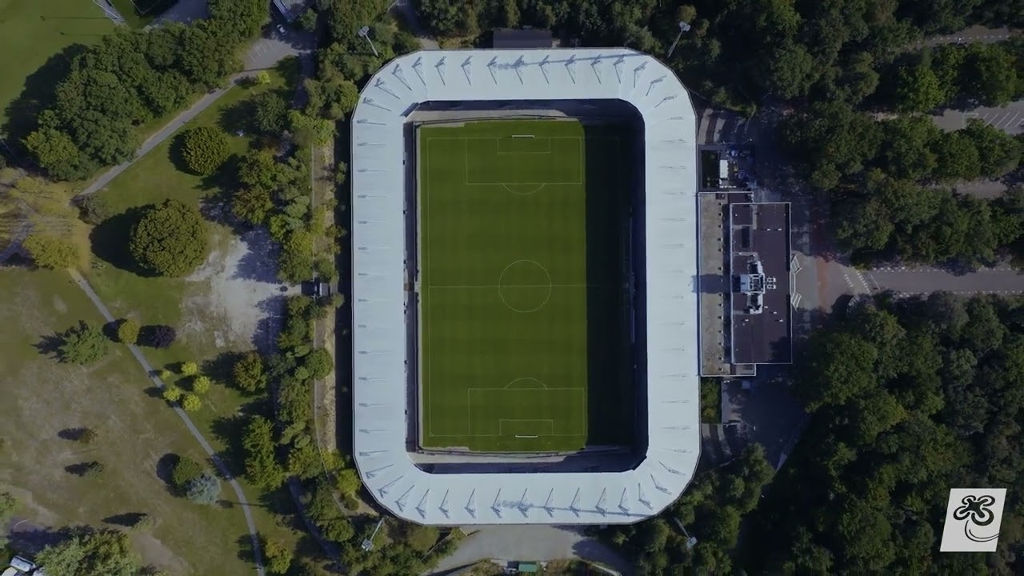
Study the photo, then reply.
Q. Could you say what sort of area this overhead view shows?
sports ground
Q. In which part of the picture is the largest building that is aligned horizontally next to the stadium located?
top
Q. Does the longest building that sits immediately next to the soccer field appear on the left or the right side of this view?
right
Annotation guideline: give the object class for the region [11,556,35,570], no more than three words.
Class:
vehicle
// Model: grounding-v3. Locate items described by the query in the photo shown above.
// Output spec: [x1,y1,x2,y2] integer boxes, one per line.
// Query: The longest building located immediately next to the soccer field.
[698,191,801,376]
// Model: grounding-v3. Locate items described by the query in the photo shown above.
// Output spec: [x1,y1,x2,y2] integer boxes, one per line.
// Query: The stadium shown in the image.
[351,48,701,525]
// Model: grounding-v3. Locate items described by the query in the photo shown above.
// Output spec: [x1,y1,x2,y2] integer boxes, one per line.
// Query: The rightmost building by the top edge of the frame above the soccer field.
[493,27,552,49]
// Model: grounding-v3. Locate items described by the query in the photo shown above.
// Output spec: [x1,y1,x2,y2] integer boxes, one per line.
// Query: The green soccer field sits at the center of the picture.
[421,120,630,453]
